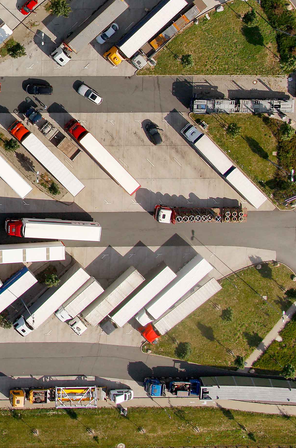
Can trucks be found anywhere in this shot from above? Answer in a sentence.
Yes, the image includes a truck.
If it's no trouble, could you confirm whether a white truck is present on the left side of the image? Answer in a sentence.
Yes, there is a white truck on the left side of the image.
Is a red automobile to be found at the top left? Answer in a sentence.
Yes, you'll find a red automobile at the top left.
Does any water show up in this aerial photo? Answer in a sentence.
No, water can't be seen anywhere here.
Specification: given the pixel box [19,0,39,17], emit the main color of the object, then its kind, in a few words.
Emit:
red car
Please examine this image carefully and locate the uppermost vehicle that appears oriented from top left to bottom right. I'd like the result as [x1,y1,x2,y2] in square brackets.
[77,83,103,106]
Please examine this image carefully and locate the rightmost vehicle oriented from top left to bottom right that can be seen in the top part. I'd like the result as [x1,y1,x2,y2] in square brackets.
[177,120,267,209]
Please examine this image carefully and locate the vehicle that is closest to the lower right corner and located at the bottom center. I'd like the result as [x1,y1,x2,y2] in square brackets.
[141,378,203,397]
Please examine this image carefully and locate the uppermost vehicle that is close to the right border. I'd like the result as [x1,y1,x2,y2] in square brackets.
[185,97,295,115]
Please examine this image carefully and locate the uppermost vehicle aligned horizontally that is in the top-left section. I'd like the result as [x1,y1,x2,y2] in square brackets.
[26,83,54,95]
